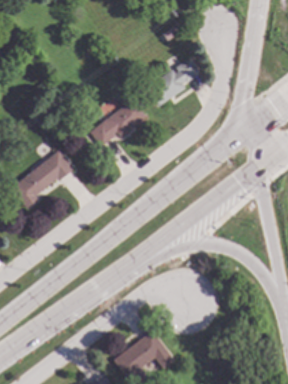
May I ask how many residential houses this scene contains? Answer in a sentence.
In total, there are 4 residential houses in the scene.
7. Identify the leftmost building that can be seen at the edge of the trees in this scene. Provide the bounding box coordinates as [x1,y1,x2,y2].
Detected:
[18,150,73,208]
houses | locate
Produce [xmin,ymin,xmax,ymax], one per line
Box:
[90,98,146,146]
[152,58,200,108]
[115,330,174,378]
[18,150,73,208]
